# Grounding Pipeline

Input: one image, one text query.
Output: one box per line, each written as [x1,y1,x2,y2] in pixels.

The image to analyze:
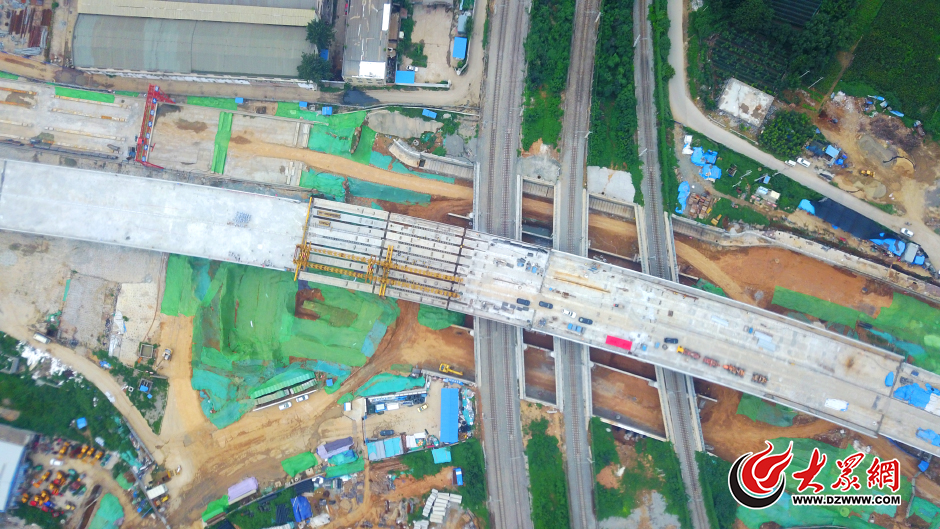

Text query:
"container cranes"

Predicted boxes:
[132,83,177,174]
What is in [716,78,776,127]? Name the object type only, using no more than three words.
house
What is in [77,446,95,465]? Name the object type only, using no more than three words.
work vehicle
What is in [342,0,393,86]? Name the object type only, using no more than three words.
building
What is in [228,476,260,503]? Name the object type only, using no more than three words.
shed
